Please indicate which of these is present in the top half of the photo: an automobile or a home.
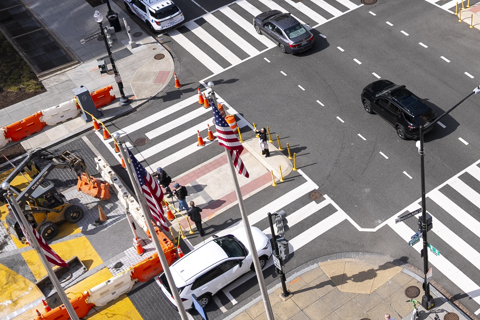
automobile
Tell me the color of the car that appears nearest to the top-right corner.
black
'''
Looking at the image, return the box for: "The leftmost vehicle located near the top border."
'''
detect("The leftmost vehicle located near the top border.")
[120,0,185,34]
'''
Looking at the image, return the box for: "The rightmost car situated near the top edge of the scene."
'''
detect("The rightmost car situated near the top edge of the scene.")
[248,8,315,56]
